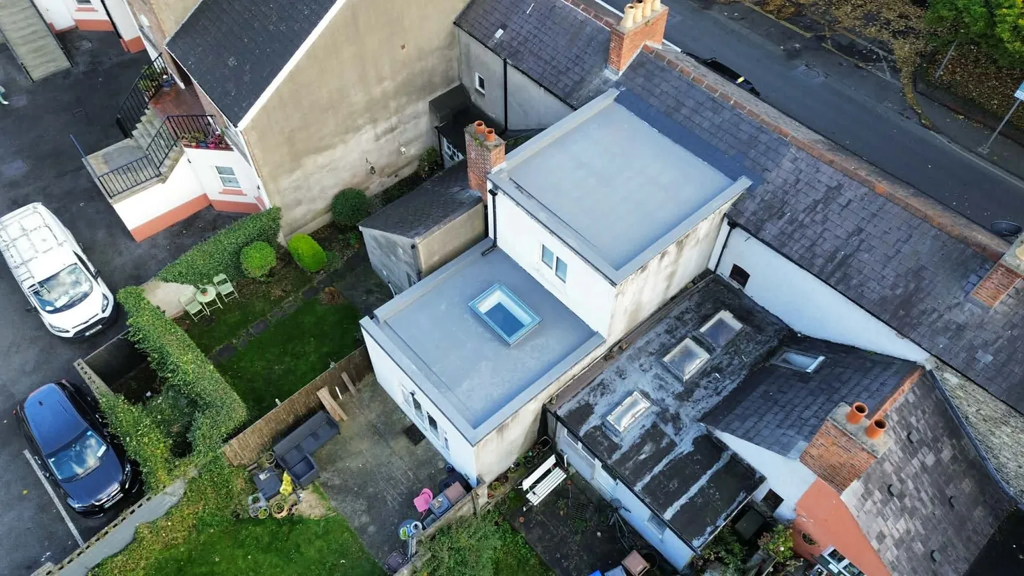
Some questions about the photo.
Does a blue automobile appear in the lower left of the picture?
Yes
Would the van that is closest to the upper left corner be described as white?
Yes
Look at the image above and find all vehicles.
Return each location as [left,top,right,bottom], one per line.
[685,53,761,97]
[18,379,137,514]
[0,201,113,336]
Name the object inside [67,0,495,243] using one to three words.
house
